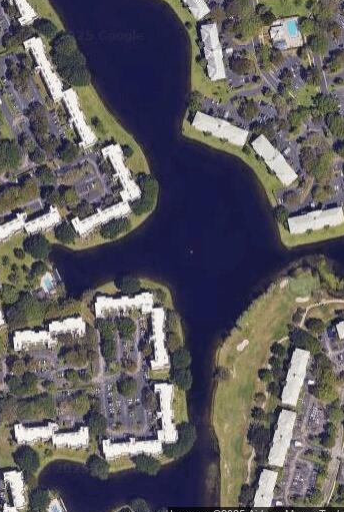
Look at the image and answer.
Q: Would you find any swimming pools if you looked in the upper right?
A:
Yes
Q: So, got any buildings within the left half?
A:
Yes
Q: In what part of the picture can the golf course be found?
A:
bottom right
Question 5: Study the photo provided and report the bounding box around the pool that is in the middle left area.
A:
[40,272,56,293]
